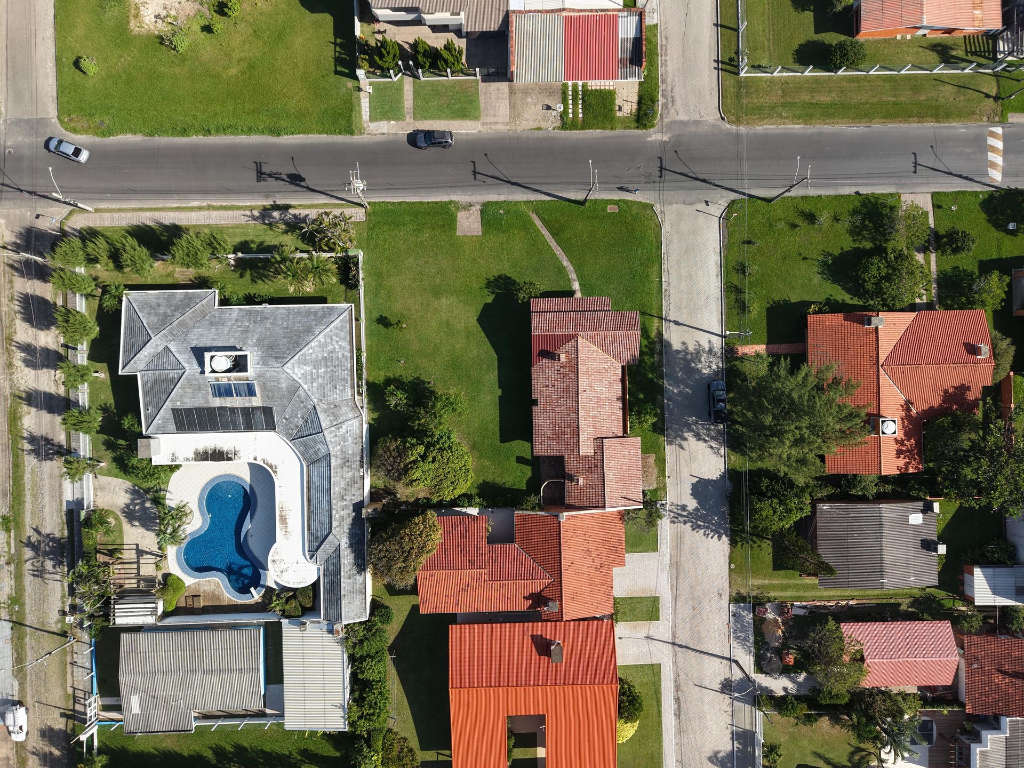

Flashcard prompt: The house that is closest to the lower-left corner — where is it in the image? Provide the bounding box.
[118,622,273,734]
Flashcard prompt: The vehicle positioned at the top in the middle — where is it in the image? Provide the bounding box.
[416,128,453,149]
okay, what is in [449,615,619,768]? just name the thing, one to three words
house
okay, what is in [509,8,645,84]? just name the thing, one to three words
shed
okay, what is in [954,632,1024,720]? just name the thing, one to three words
house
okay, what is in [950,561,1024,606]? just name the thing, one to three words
shed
